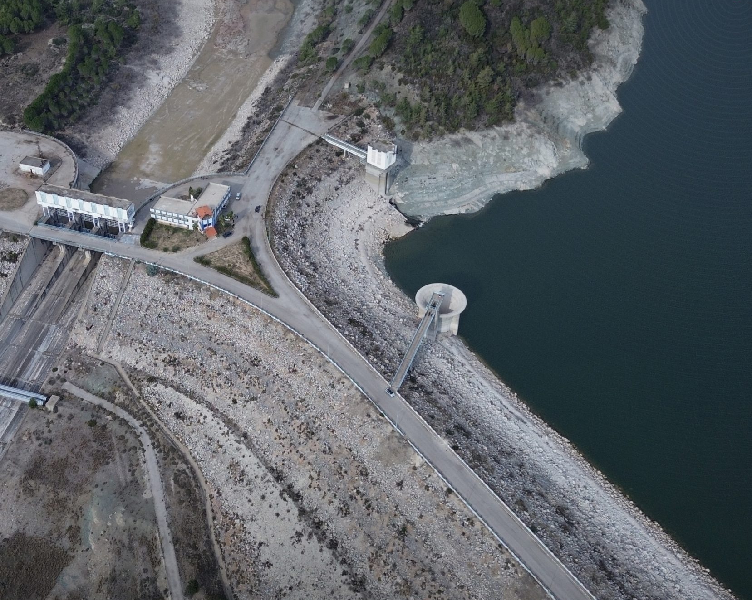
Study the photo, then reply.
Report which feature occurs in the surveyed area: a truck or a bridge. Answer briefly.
bridge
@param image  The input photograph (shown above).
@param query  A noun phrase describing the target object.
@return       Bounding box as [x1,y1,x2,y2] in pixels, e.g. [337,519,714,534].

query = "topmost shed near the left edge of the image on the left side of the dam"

[16,154,54,177]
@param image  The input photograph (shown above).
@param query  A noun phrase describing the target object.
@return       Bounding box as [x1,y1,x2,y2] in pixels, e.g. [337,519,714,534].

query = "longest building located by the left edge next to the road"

[33,186,137,242]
